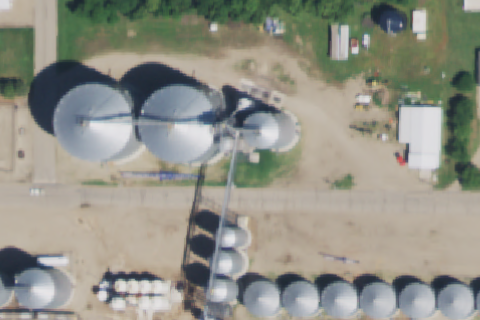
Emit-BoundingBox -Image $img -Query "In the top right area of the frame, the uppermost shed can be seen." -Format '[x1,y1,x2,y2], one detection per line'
[413,11,428,40]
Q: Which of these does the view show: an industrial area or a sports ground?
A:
industrial area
